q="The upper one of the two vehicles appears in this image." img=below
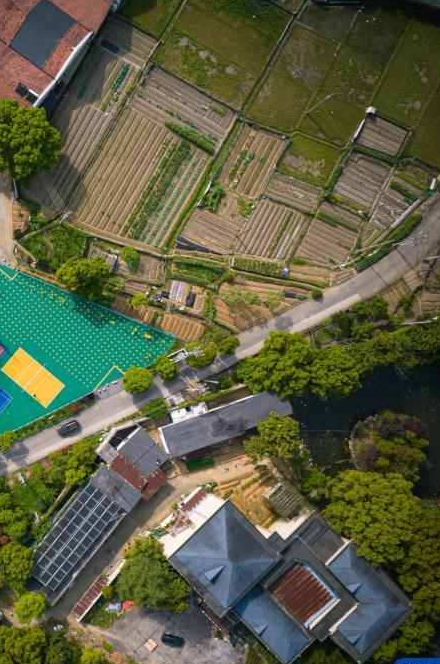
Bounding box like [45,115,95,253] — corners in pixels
[56,419,80,435]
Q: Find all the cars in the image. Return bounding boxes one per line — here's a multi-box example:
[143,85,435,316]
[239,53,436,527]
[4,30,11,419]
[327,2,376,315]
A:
[161,633,185,646]
[56,419,80,435]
